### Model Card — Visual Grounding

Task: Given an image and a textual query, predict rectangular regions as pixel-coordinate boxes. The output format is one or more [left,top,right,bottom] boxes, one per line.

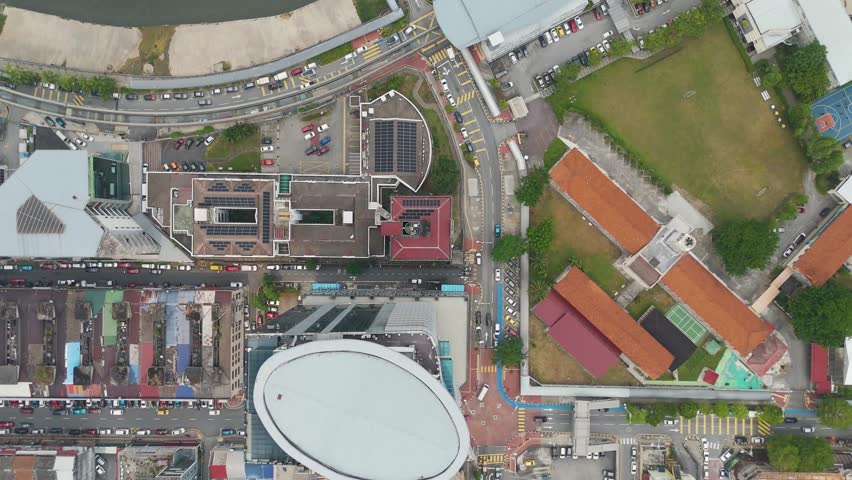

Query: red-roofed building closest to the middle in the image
[381,195,452,261]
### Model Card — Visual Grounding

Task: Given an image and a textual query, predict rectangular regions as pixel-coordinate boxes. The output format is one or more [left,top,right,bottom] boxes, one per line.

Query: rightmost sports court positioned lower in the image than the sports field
[665,303,708,344]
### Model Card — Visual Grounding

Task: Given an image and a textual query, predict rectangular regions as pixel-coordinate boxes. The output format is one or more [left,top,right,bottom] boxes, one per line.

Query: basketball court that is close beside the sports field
[810,83,852,141]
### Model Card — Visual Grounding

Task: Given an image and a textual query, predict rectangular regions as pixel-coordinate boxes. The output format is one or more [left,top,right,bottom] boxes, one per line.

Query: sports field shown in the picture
[558,20,806,224]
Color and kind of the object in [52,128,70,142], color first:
white vehicle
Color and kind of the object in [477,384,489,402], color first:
white vehicle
